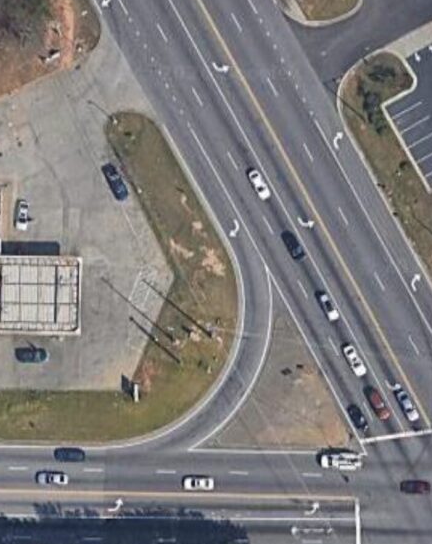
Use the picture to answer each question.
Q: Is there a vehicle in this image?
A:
Yes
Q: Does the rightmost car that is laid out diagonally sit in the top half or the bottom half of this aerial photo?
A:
bottom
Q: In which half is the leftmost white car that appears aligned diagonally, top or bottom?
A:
top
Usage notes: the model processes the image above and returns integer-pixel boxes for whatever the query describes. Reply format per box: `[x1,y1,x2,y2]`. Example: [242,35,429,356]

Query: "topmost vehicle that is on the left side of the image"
[102,164,127,200]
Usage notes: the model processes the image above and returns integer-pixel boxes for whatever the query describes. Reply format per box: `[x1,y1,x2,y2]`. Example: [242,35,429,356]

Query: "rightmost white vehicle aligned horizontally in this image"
[319,453,361,469]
